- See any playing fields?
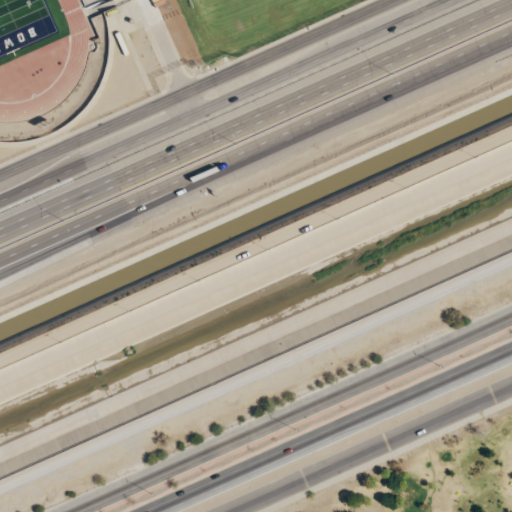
Yes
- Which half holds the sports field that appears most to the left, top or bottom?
top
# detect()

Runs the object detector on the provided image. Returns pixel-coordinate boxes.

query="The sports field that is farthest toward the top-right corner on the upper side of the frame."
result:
[177,0,374,62]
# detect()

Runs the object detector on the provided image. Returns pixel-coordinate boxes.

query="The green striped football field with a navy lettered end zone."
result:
[0,0,70,66]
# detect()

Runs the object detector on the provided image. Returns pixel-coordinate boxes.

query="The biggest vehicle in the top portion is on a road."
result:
[190,163,227,183]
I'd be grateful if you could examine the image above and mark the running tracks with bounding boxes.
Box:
[0,0,89,121]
